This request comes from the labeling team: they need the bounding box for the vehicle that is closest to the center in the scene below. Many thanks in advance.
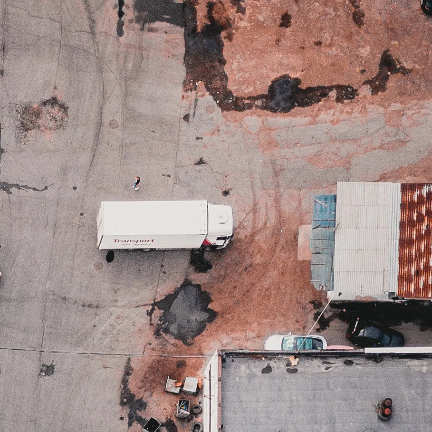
[96,202,232,253]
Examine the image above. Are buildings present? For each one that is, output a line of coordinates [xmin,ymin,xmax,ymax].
[205,346,432,432]
[311,182,401,305]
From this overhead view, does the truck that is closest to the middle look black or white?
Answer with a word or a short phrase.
white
